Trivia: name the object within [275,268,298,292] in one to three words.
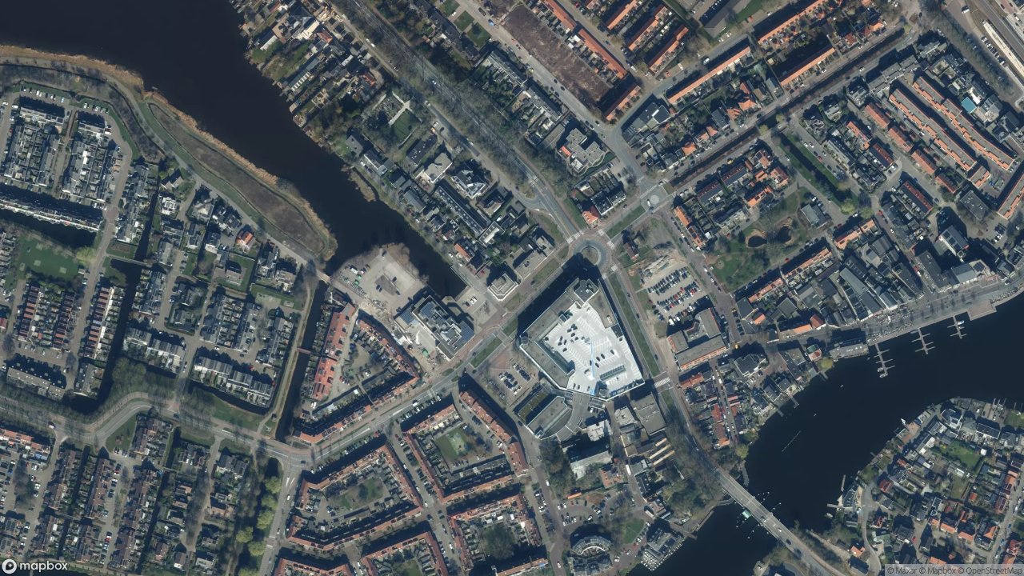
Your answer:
house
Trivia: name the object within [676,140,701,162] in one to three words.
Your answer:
house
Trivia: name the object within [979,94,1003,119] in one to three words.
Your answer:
building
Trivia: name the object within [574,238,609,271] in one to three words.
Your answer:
roundabout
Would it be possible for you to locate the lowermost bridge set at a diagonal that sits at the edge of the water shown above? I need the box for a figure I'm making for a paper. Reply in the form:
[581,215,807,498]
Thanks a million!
[720,471,820,569]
